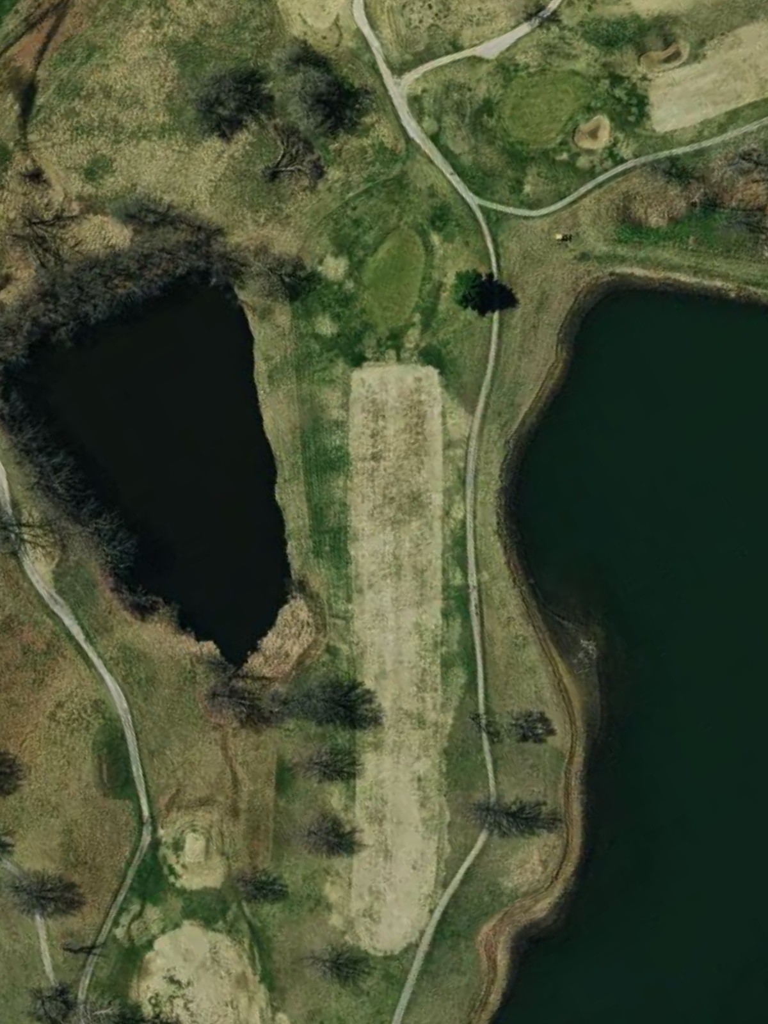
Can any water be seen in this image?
Yes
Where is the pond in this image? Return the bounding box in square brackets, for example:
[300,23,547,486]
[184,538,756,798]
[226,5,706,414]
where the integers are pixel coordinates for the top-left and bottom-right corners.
[2,274,291,667]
